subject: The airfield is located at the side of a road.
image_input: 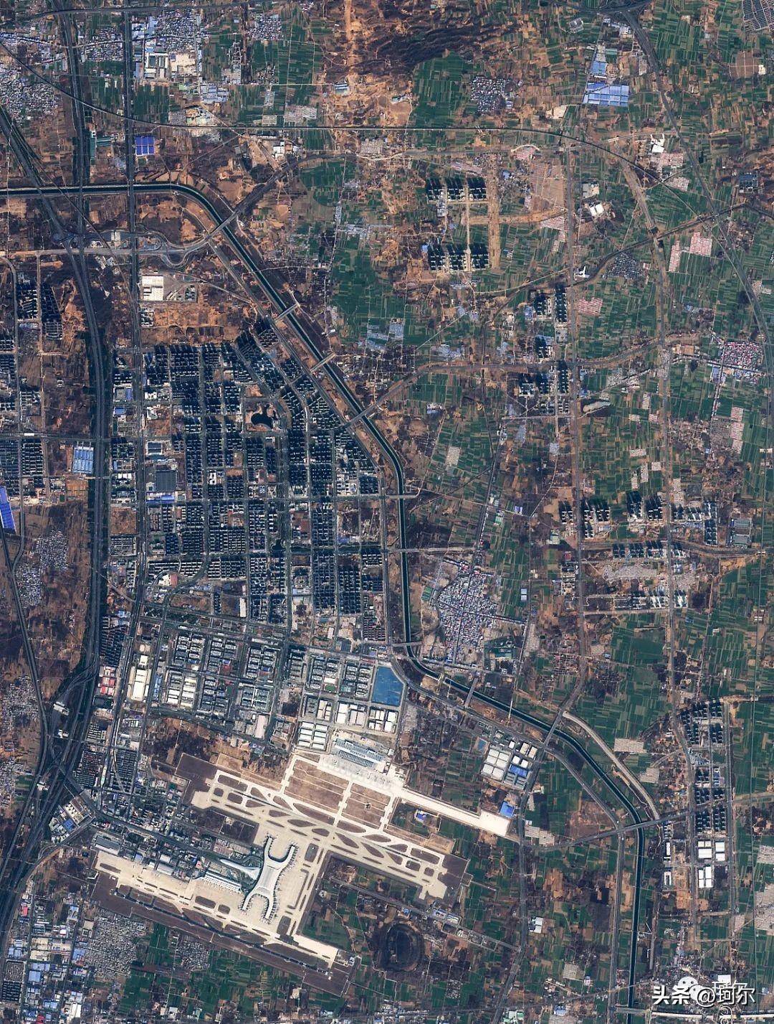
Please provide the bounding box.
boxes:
[91,749,510,996]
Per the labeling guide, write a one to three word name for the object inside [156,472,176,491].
building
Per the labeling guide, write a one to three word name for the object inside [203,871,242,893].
building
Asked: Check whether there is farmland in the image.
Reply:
Yes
